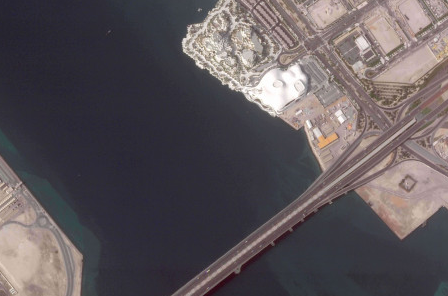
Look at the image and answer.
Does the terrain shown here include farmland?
No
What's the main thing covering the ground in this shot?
water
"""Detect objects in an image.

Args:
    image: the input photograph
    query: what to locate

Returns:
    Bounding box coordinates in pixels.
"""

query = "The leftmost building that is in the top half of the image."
[184,0,278,115]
